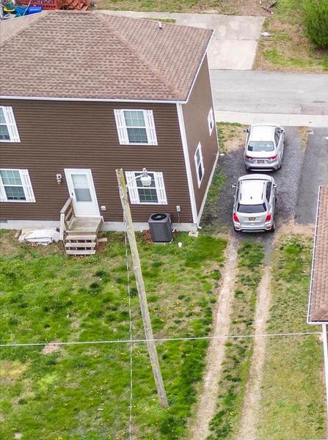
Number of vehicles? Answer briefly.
2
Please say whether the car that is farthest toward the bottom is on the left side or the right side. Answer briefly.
right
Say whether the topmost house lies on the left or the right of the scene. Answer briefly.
left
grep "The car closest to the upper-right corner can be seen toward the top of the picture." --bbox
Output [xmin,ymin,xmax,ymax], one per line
[243,118,291,165]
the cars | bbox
[233,168,283,224]
[243,118,291,165]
